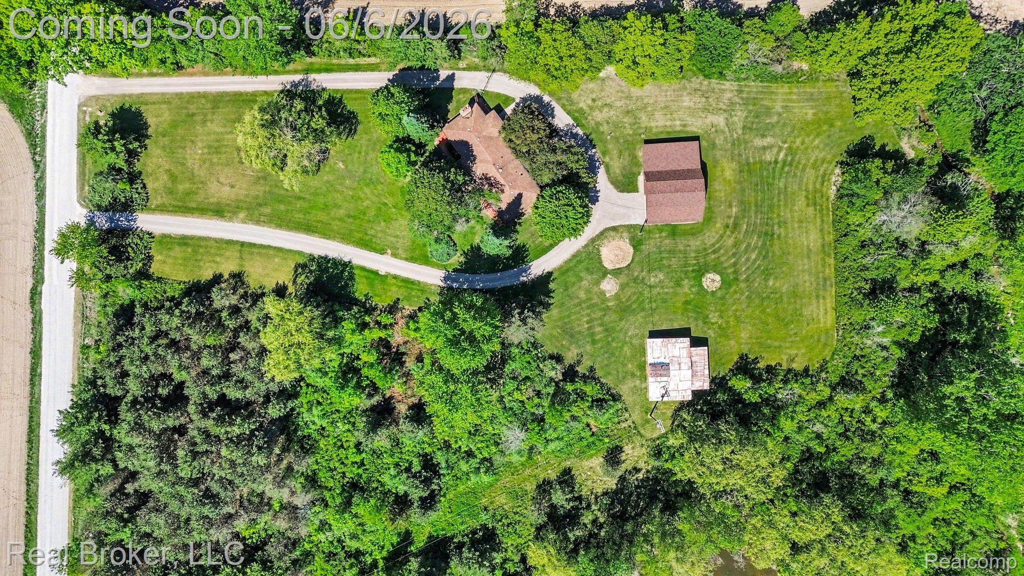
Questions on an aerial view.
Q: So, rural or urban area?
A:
rural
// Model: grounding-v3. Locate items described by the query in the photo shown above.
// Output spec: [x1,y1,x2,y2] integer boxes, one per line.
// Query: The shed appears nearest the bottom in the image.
[647,338,709,401]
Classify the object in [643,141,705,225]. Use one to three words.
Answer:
barn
